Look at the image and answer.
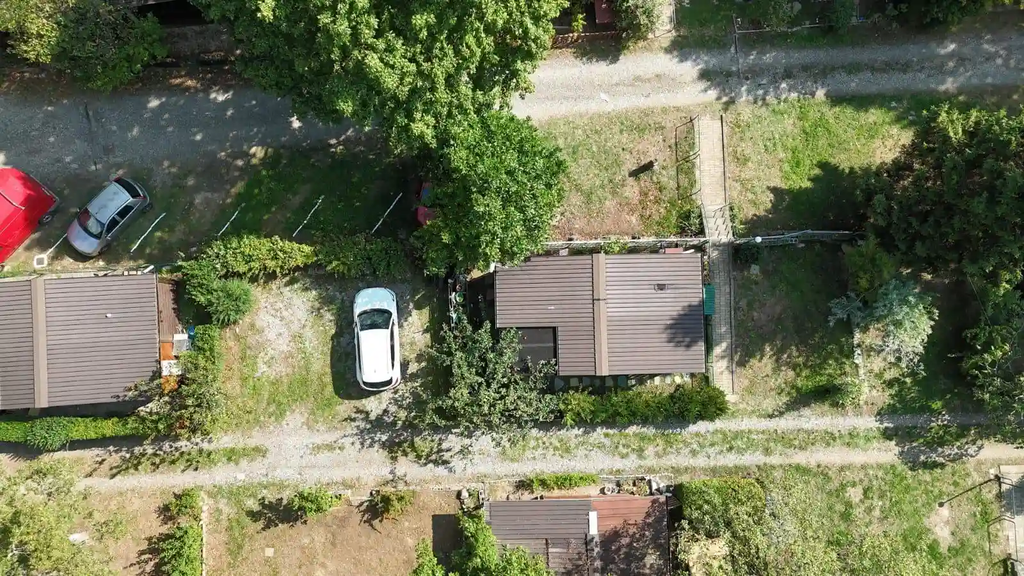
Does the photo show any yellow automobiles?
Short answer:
No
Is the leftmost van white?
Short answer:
No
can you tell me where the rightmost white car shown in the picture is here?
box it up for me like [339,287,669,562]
[348,287,404,390]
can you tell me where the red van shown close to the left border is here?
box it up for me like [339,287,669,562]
[0,168,57,270]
